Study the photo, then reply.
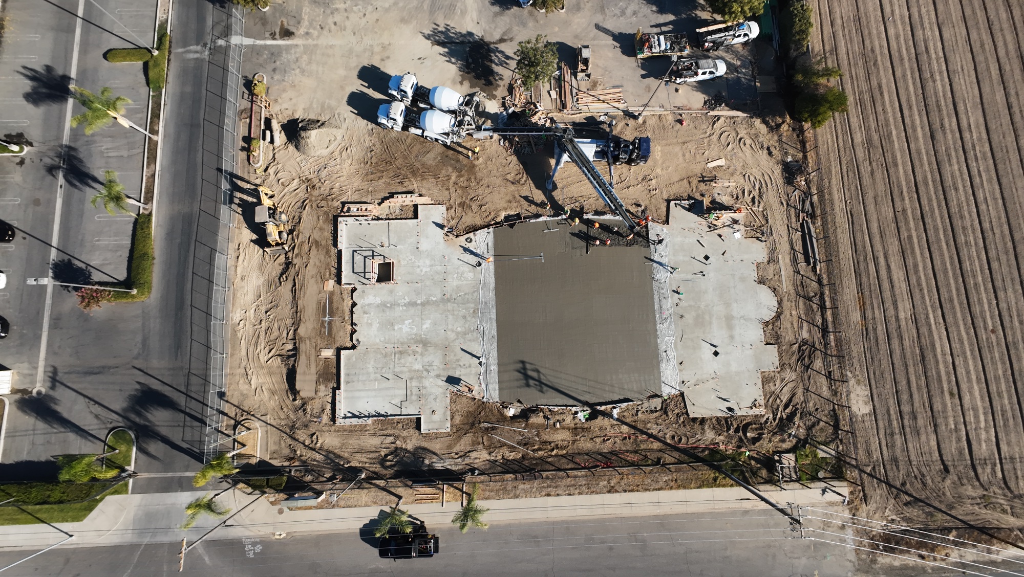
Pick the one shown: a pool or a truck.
truck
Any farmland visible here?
Yes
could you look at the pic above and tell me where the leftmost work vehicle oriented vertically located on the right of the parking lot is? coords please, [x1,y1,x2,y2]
[256,188,288,259]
